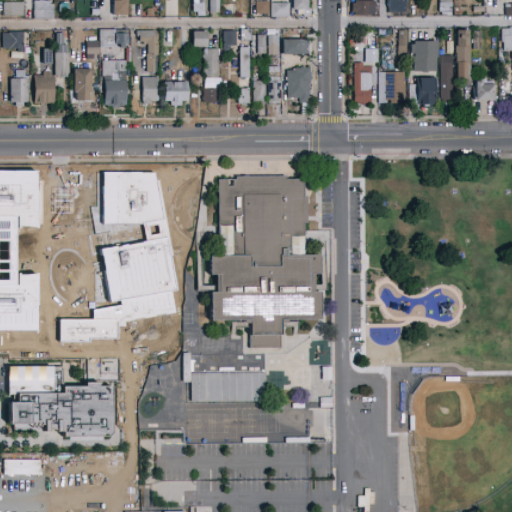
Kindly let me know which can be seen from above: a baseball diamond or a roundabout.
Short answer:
baseball diamond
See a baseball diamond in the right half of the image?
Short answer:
Yes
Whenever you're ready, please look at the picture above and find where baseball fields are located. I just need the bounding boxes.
[414,377,475,440]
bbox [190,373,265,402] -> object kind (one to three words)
building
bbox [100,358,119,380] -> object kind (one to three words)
shed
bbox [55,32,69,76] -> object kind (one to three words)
house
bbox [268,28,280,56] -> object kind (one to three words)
house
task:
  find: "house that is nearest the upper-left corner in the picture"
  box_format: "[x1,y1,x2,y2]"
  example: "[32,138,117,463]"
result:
[2,1,25,16]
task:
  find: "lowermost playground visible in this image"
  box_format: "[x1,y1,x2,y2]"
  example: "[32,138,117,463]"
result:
[140,392,166,418]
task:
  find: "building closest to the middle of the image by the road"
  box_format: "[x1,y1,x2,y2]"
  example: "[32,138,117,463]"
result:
[212,176,322,348]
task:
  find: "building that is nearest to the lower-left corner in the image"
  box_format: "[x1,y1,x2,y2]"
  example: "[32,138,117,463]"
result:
[4,460,43,476]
